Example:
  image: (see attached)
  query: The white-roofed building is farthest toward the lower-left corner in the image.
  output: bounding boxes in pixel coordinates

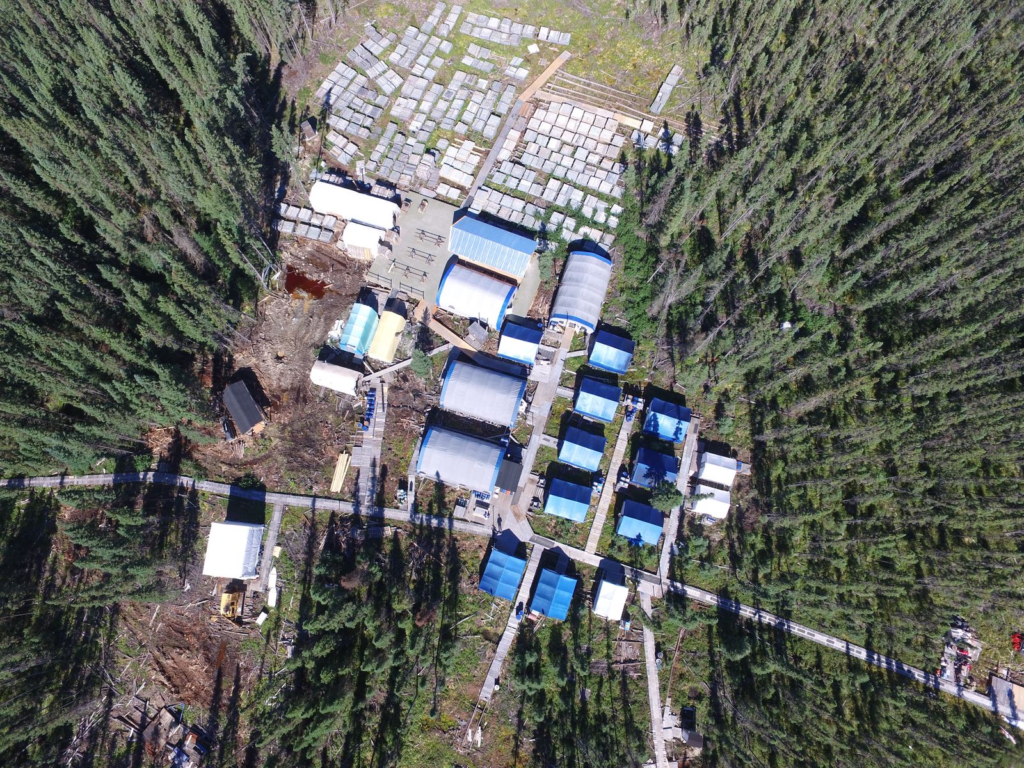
[202,522,267,577]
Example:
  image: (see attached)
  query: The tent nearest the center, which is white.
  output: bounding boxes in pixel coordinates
[497,323,544,368]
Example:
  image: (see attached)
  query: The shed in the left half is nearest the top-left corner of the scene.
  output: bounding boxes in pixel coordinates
[297,120,323,147]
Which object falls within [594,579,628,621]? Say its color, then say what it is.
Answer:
white tent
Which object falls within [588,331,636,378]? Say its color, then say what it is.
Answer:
blue tent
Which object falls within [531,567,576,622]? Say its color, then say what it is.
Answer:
blue tent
